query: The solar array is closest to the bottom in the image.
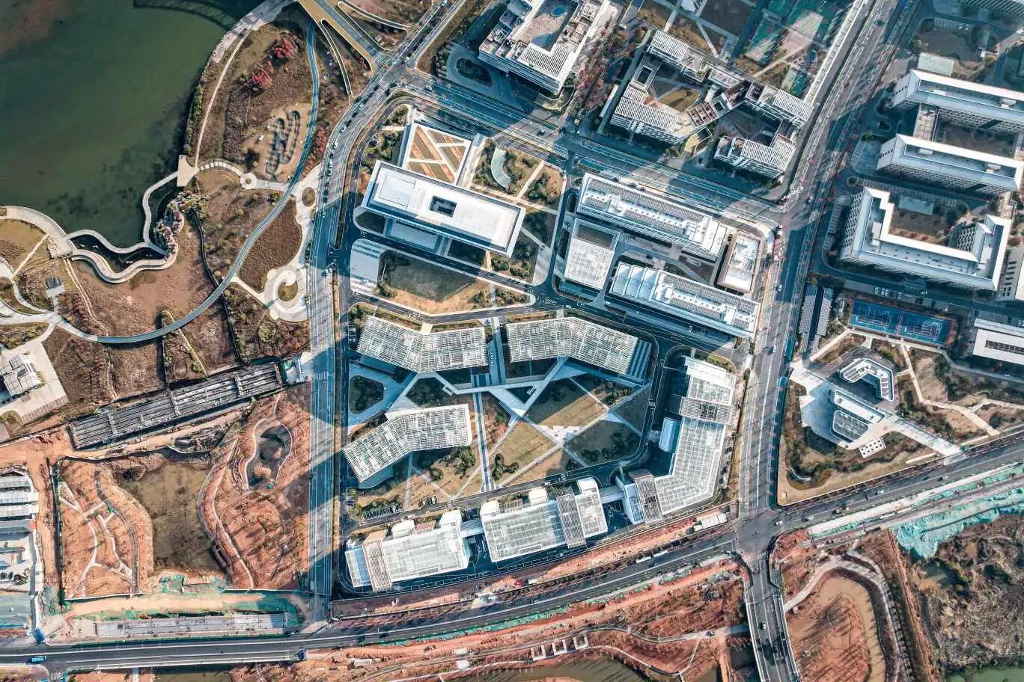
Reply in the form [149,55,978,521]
[836,414,865,434]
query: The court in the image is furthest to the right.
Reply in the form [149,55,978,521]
[899,311,954,346]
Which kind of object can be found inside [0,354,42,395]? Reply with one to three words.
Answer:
building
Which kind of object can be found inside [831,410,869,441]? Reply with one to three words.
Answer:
building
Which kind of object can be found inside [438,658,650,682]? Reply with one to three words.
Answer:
pond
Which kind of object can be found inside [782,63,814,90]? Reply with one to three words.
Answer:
sports court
